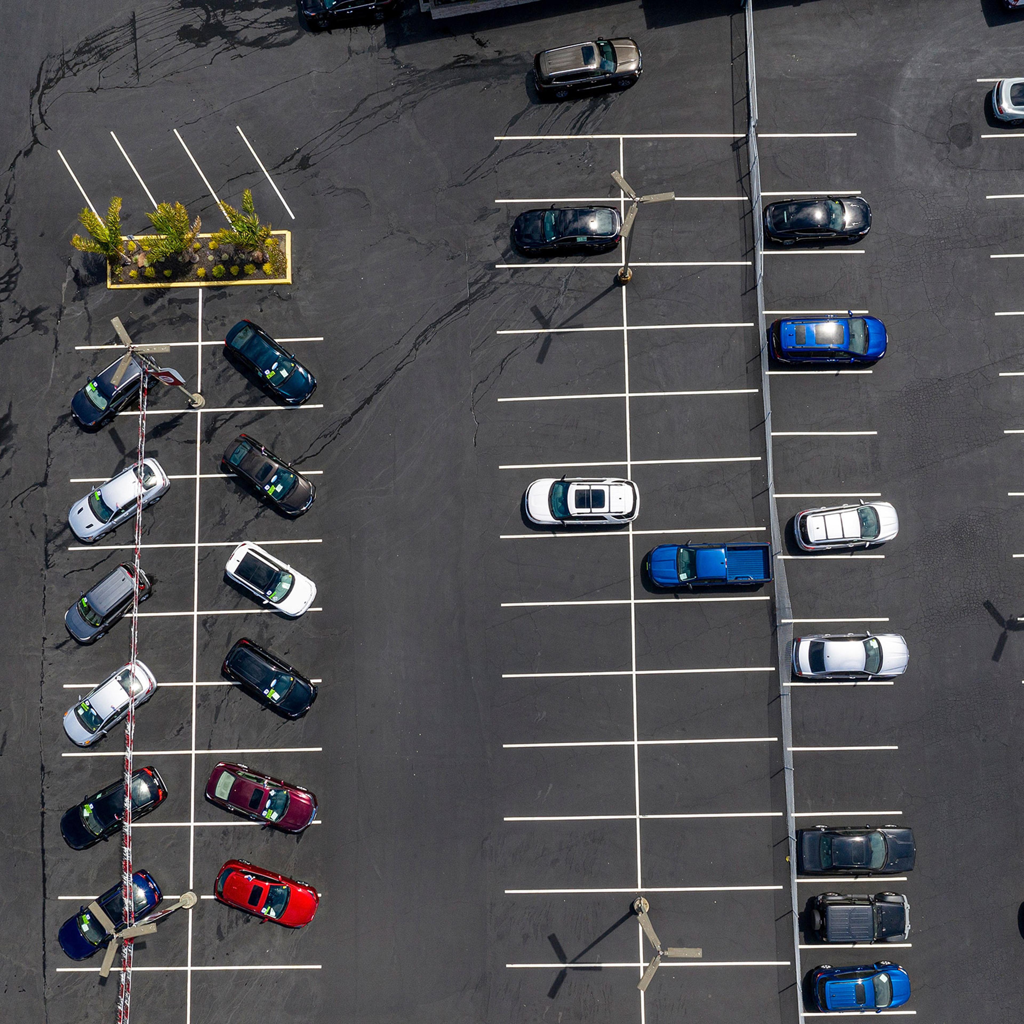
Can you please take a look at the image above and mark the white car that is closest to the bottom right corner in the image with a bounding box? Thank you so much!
[793,628,908,683]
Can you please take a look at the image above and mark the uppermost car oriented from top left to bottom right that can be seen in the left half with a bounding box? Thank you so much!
[223,317,316,405]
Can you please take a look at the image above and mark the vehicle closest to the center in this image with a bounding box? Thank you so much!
[525,471,640,526]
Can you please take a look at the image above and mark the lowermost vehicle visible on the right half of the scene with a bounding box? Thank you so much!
[814,961,911,1019]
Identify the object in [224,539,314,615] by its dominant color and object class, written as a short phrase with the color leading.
white car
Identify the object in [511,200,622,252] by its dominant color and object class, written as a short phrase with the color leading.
black car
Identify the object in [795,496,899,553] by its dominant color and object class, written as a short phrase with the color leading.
white car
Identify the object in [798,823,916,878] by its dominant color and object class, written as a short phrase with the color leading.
black car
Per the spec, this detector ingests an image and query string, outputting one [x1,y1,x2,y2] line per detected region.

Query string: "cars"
[770,308,889,364]
[511,200,622,252]
[533,35,643,99]
[811,894,913,946]
[798,823,916,878]
[224,539,314,615]
[66,560,153,641]
[296,0,401,27]
[992,80,1024,128]
[69,457,171,540]
[525,471,640,526]
[73,350,161,430]
[205,760,315,835]
[218,638,315,720]
[68,662,159,743]
[220,435,313,515]
[213,858,315,928]
[793,628,908,683]
[764,188,871,241]
[795,496,899,553]
[814,961,911,1019]
[223,317,316,405]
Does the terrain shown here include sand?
No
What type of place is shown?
parking lot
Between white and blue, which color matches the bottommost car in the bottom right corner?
blue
